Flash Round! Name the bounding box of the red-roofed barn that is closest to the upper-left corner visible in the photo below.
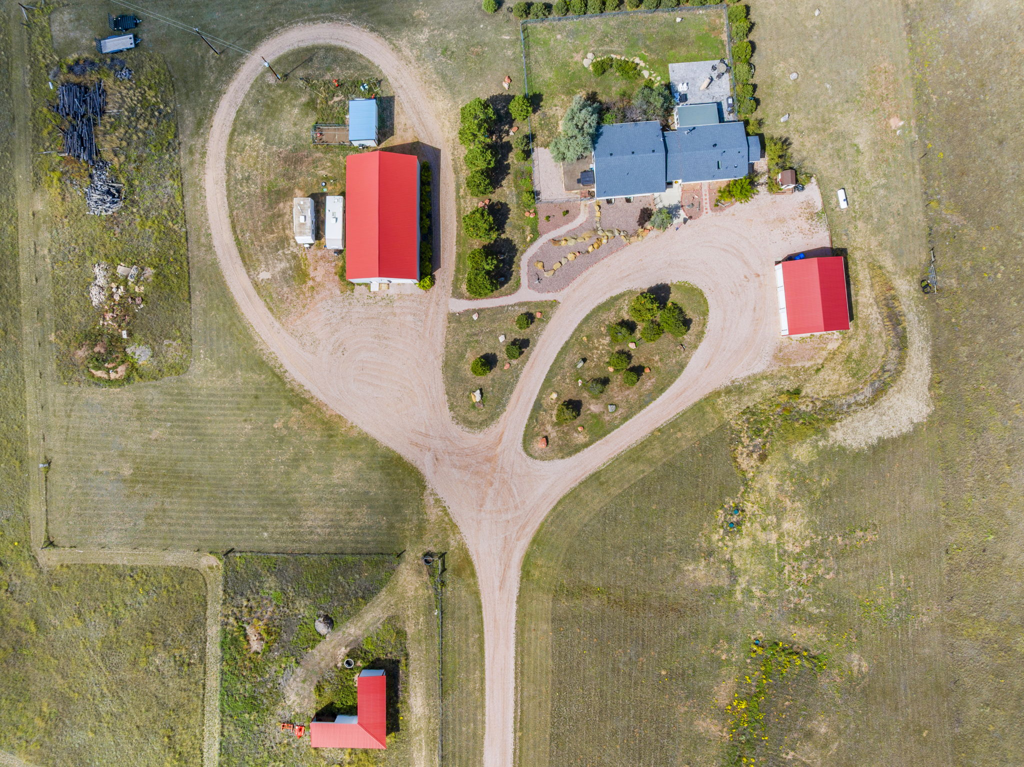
[346,150,419,284]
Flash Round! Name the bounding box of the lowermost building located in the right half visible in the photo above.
[775,256,850,335]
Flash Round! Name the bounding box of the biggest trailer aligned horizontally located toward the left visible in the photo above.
[92,32,145,55]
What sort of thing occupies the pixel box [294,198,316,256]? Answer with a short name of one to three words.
vehicle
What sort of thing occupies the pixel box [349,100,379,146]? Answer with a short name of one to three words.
shed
